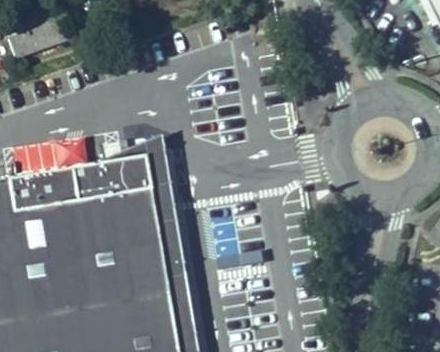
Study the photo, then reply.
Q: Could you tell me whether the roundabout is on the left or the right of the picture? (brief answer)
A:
right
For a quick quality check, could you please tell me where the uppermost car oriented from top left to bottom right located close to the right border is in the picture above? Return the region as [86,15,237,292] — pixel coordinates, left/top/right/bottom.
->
[402,9,422,33]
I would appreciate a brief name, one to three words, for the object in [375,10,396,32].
car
